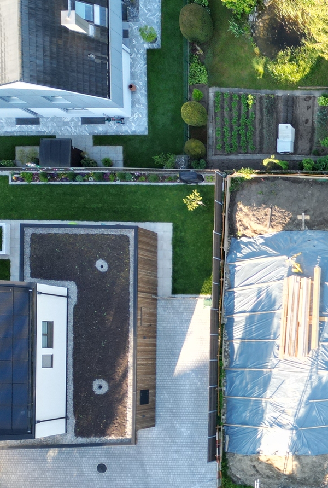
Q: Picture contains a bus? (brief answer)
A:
No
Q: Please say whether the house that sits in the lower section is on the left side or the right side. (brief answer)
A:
left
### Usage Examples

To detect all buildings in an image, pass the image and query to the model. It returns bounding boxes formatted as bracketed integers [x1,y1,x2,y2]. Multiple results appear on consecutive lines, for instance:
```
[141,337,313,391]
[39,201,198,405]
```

[0,225,159,442]
[0,0,130,117]
[40,139,91,171]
